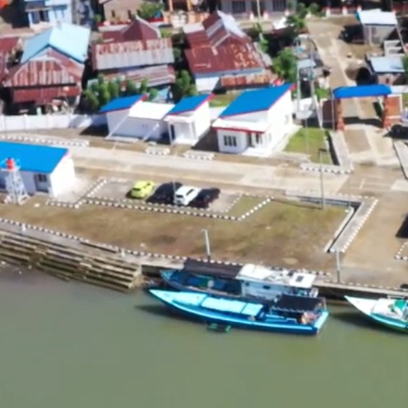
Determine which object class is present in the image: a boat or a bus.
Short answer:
boat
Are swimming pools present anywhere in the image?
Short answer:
No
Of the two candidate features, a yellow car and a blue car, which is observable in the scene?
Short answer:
yellow car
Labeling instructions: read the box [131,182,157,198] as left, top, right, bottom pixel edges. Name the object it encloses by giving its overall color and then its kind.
yellow car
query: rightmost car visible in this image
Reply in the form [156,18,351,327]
[194,189,221,205]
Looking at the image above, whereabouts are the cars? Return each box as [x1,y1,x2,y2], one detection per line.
[175,187,203,203]
[131,182,157,198]
[194,189,221,205]
[152,185,181,202]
